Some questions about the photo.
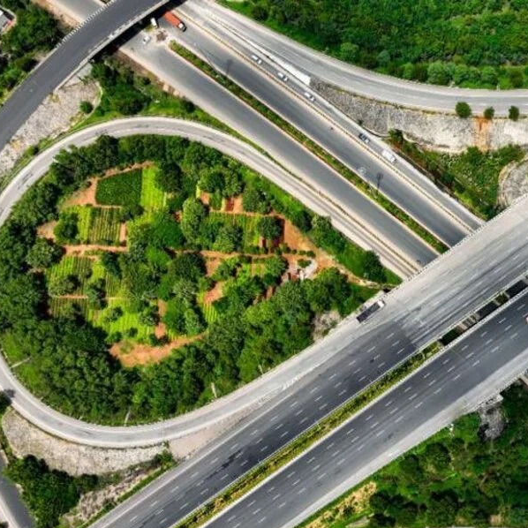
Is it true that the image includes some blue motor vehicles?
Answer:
No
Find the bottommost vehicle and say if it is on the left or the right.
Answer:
right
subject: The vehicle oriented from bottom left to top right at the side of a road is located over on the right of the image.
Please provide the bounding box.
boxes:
[357,300,382,320]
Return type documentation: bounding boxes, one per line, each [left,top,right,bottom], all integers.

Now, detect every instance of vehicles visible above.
[358,133,370,143]
[276,71,288,81]
[381,147,395,160]
[357,300,382,320]
[251,54,262,64]
[303,91,315,100]
[149,14,158,27]
[158,6,185,29]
